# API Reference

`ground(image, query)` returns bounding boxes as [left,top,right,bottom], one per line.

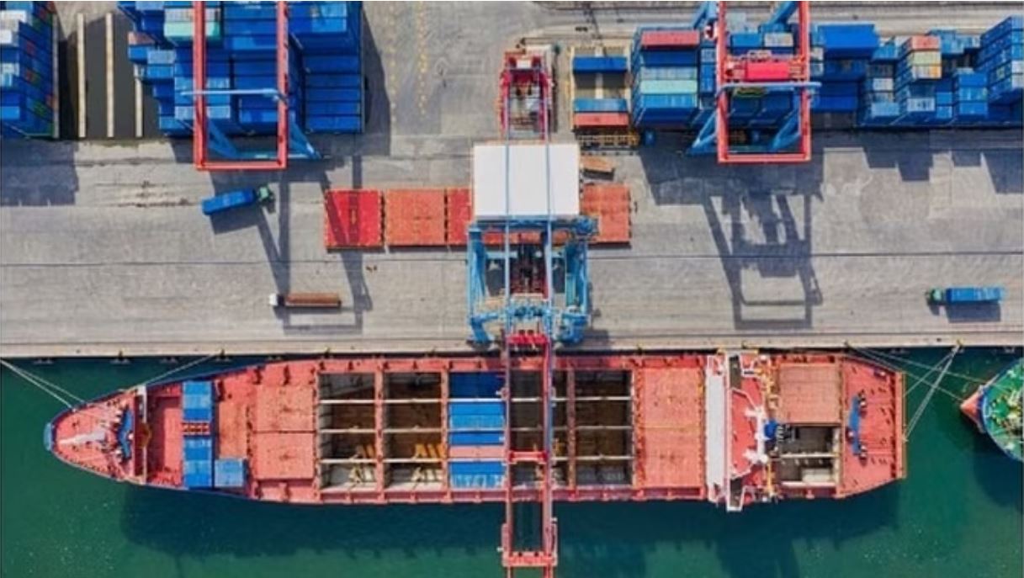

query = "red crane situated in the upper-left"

[183,0,330,173]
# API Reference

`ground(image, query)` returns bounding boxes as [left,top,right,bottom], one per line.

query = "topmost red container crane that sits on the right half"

[678,0,821,167]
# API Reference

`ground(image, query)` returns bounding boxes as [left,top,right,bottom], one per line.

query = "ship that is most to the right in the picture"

[964,357,1024,469]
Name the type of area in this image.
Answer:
port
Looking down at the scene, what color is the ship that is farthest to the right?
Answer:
green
